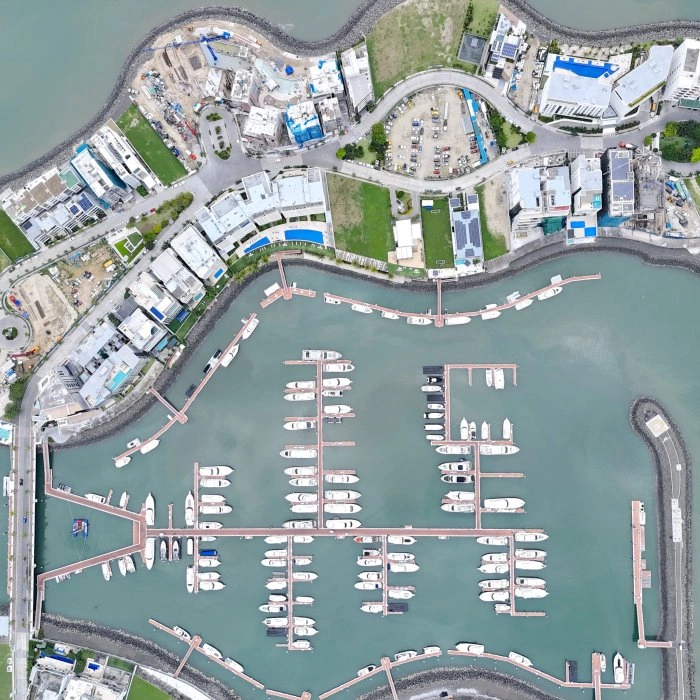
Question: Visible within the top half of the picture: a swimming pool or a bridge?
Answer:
swimming pool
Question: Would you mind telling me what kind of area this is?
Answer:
port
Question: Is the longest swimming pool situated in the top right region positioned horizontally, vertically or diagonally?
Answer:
horizontally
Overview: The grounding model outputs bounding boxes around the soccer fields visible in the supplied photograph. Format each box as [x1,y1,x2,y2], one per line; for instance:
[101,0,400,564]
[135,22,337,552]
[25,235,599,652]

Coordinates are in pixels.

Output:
[422,196,456,269]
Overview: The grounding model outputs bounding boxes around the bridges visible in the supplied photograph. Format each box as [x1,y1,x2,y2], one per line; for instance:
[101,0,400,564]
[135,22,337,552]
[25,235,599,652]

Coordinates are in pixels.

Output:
[12,418,37,650]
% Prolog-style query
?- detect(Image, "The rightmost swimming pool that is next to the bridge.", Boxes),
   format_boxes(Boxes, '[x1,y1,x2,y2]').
[40,651,76,664]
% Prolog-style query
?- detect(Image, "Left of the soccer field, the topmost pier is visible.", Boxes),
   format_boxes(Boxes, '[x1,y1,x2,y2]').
[261,250,317,307]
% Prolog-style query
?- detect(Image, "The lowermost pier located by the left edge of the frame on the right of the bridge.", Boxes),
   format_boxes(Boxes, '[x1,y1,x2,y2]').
[35,444,145,634]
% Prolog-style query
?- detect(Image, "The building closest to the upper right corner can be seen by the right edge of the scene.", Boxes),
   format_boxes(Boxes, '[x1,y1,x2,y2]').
[665,38,700,102]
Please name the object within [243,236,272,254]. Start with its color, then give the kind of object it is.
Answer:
blue swimming pool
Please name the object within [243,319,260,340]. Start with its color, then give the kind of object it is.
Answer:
white boat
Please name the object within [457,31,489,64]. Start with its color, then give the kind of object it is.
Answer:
gray sports court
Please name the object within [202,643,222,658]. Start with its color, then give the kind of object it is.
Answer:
white boat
